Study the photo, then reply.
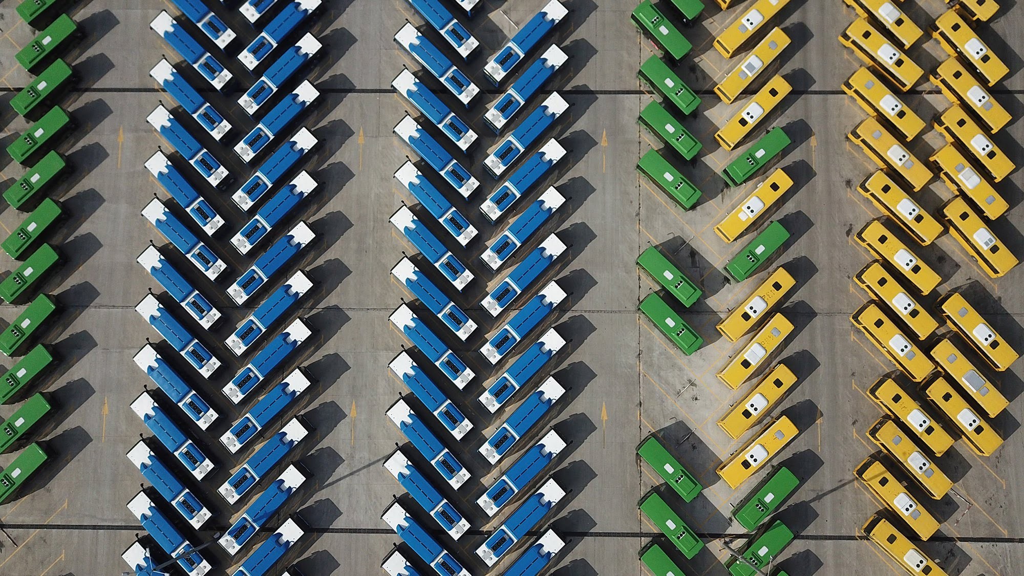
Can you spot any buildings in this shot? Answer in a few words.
No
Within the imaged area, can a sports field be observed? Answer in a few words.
No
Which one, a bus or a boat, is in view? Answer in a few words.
bus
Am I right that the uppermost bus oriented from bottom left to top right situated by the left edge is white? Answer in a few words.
No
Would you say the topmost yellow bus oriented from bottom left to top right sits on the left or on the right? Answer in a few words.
right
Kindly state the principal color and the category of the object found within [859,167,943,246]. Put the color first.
yellow bus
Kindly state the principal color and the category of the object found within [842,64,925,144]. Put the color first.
yellow bus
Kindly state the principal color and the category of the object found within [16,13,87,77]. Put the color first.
green bus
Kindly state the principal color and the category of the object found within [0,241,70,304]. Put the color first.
green bus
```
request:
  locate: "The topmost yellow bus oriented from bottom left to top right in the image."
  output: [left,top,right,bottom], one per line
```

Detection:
[713,0,788,60]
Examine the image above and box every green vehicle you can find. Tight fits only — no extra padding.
[723,219,794,283]
[635,145,700,212]
[722,126,794,187]
[0,291,66,356]
[635,432,701,501]
[731,464,803,530]
[637,288,702,355]
[637,486,703,558]
[635,242,701,308]
[658,0,703,28]
[725,516,797,576]
[17,0,74,30]
[0,241,70,304]
[11,58,82,121]
[16,13,87,77]
[8,104,80,168]
[0,440,59,504]
[4,149,76,212]
[2,196,73,261]
[0,341,64,404]
[637,52,700,121]
[637,97,701,165]
[0,390,62,454]
[631,0,694,67]
[638,537,688,576]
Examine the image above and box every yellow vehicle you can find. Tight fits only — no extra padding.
[716,360,800,438]
[842,64,925,144]
[928,7,1009,89]
[715,411,801,487]
[929,54,1012,136]
[851,299,935,380]
[933,101,1015,185]
[855,455,940,539]
[715,310,796,389]
[713,26,793,106]
[933,288,1019,370]
[925,144,1009,225]
[714,74,794,152]
[715,265,798,342]
[868,414,954,498]
[923,334,1009,416]
[843,0,923,53]
[859,167,943,246]
[935,193,1019,277]
[713,167,795,244]
[868,373,954,455]
[713,0,788,60]
[840,15,924,93]
[917,372,1004,455]
[850,113,933,194]
[862,512,943,576]
[947,0,999,28]
[855,258,938,339]
[855,217,941,296]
